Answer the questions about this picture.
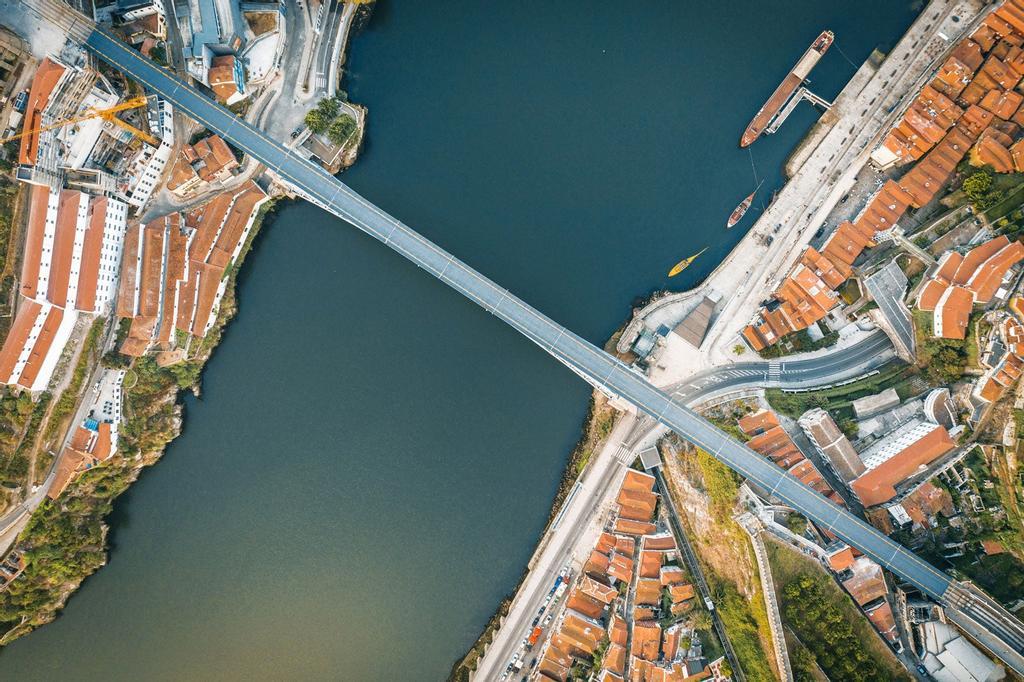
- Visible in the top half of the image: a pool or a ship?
ship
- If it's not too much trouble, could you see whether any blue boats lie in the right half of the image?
No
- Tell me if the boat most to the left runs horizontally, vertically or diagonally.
diagonally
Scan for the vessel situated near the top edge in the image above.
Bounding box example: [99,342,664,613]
[740,27,836,148]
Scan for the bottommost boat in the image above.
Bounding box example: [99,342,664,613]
[668,247,709,277]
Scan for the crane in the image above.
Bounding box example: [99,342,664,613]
[0,100,164,145]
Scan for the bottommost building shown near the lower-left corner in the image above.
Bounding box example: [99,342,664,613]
[0,547,30,590]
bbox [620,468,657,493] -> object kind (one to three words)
house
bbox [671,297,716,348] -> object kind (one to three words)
building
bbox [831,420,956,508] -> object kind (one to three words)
building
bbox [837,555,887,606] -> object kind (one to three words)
house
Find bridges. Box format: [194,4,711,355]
[82,24,956,600]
